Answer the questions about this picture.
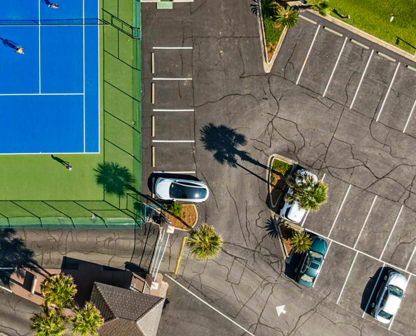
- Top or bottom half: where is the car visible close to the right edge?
bottom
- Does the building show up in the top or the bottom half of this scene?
bottom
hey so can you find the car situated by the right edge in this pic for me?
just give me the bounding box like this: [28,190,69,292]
[372,269,407,323]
